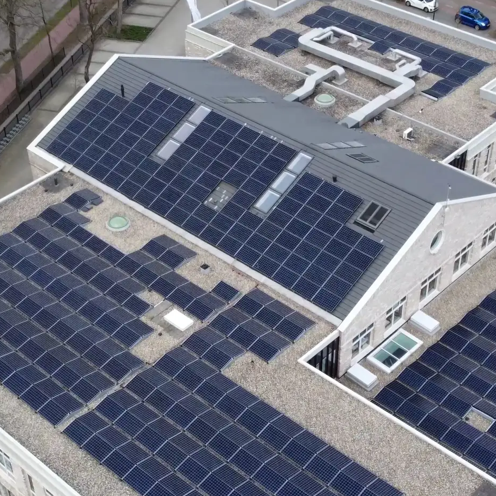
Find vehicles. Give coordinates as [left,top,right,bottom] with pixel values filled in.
[408,0,440,10]
[459,5,494,29]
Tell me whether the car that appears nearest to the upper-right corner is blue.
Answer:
Yes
